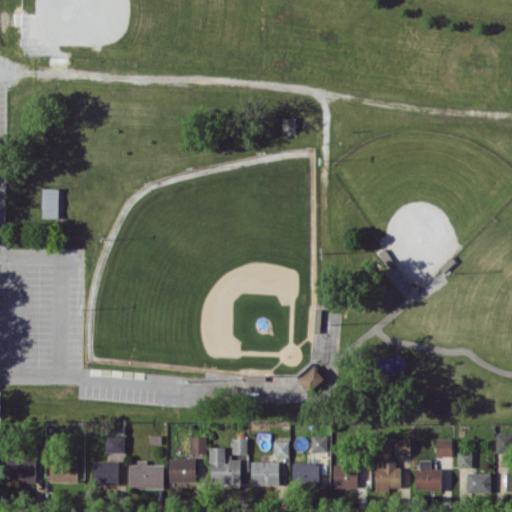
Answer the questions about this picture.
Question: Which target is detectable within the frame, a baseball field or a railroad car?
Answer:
baseball field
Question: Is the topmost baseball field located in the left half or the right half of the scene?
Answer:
left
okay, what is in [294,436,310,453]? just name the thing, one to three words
swimming pool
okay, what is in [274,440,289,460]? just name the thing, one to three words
building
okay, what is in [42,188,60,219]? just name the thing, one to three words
shed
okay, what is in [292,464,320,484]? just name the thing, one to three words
house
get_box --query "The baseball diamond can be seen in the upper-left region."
[35,0,128,58]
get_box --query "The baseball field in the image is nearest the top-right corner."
[332,130,512,291]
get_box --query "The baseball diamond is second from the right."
[89,149,317,378]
